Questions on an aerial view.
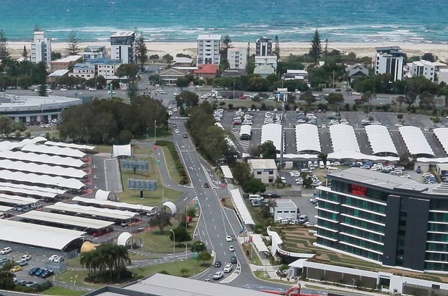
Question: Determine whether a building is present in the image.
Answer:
Yes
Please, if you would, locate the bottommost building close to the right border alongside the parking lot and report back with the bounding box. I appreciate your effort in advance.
[314,173,448,276]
